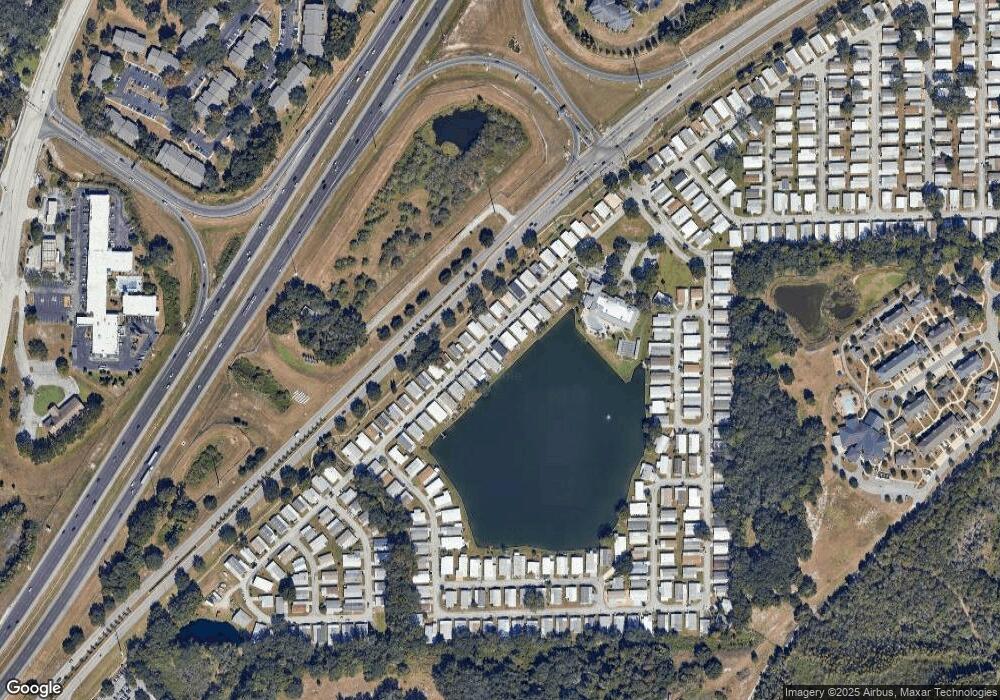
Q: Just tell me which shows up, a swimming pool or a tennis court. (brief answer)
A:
swimming pool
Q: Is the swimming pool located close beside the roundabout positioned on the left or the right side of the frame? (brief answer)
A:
right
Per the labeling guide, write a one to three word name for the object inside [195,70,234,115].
building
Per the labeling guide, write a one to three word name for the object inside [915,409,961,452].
house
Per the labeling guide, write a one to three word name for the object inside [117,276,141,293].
swimming pool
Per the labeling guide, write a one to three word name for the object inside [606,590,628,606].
house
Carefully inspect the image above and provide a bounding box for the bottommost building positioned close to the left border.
[43,394,85,434]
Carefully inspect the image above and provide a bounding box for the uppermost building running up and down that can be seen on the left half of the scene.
[302,2,326,56]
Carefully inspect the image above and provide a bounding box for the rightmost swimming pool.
[837,389,859,418]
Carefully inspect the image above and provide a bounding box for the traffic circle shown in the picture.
[870,384,900,416]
